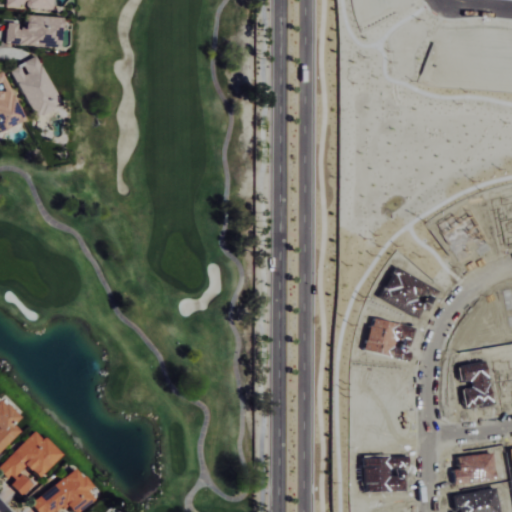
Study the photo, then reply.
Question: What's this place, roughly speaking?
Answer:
golf course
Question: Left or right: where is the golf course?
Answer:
left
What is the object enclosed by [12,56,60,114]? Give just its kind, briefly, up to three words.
house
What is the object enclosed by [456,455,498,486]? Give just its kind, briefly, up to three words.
house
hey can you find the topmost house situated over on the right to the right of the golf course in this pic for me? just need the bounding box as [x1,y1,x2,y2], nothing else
[383,270,440,318]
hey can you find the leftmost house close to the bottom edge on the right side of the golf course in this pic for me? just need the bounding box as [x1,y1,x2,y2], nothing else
[364,458,410,492]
